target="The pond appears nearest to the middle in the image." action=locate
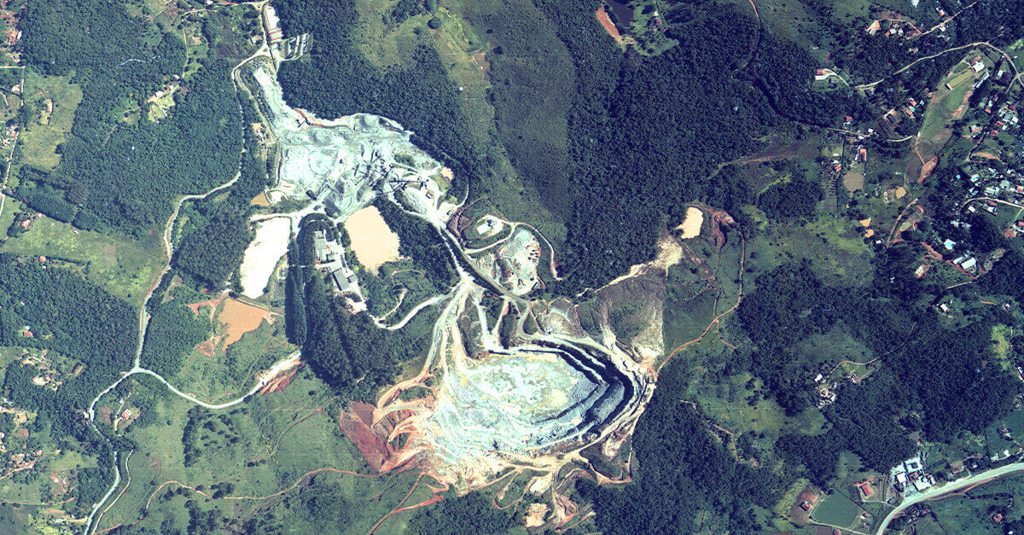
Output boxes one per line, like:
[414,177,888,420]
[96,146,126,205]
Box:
[346,206,399,273]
